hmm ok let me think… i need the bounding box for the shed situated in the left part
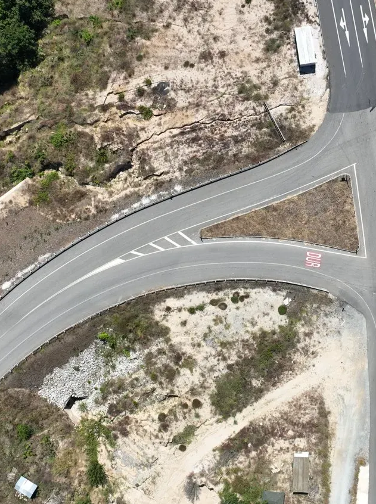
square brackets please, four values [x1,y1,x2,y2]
[15,476,39,498]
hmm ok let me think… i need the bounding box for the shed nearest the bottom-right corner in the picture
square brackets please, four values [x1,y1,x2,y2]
[293,453,309,494]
